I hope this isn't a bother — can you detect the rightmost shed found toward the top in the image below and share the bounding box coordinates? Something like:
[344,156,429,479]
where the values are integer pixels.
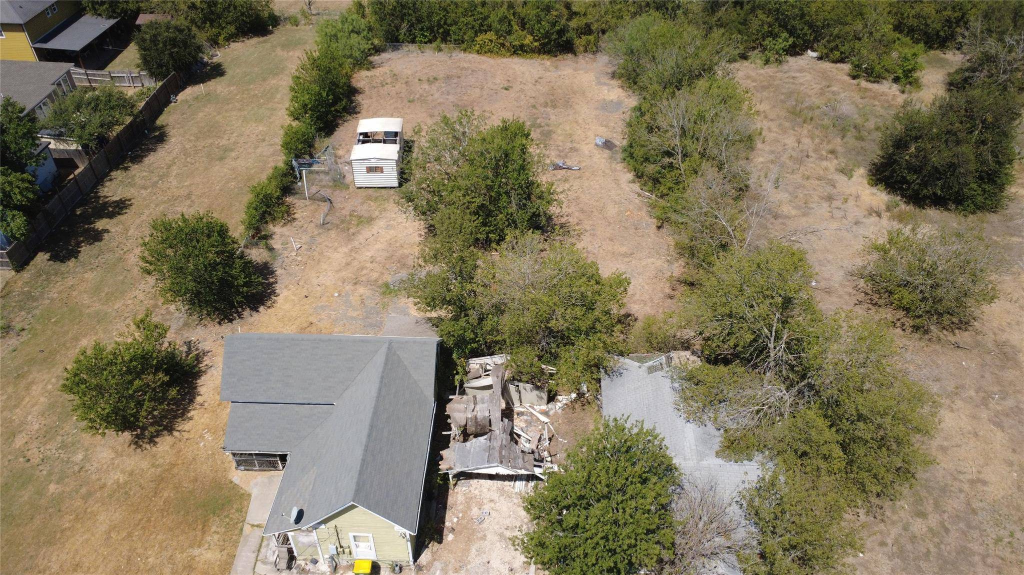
[350,117,406,188]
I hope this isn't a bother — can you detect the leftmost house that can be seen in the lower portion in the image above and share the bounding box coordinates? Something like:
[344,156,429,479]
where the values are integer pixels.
[218,337,447,568]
